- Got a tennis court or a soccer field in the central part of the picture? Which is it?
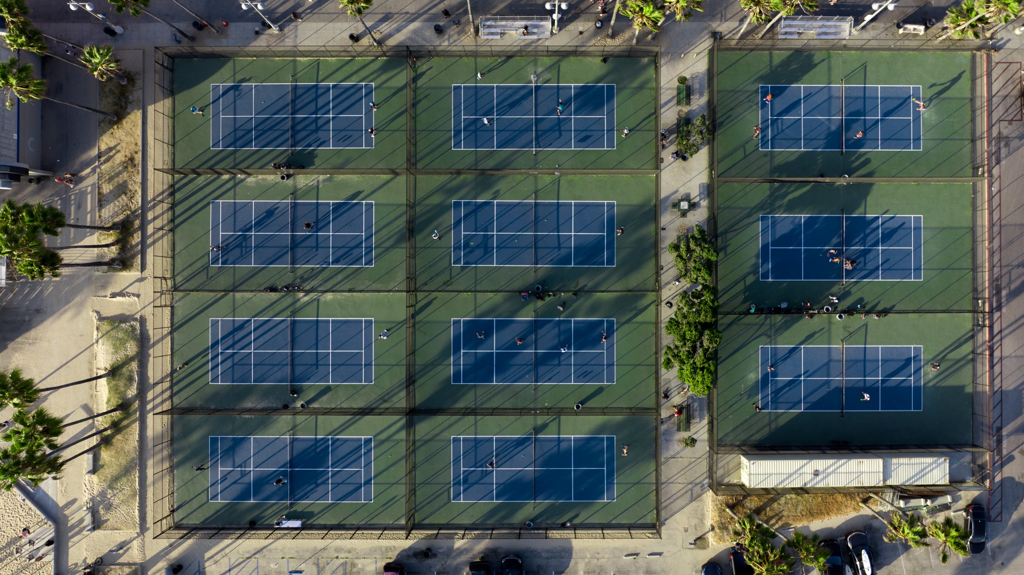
tennis court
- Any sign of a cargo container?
Yes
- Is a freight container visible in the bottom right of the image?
Yes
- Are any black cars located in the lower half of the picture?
Yes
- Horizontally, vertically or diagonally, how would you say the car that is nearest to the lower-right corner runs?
vertically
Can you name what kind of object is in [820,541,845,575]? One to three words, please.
car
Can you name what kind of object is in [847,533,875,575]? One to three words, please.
car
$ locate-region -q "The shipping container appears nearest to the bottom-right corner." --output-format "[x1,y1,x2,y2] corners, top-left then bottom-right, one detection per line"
[873,454,953,488]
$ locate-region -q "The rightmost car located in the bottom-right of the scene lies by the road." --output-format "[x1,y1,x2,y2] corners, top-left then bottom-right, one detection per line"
[962,504,988,555]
